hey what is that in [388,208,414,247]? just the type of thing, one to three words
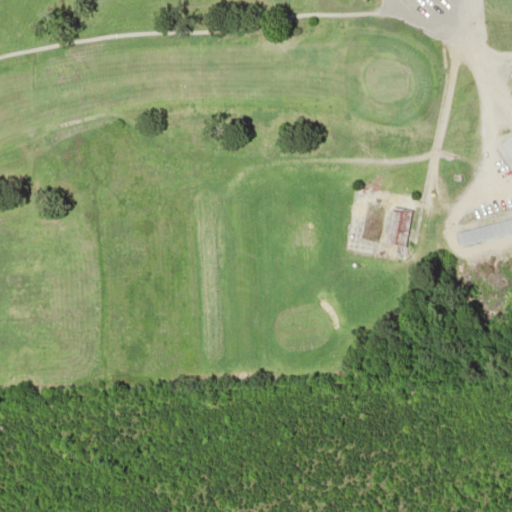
barn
